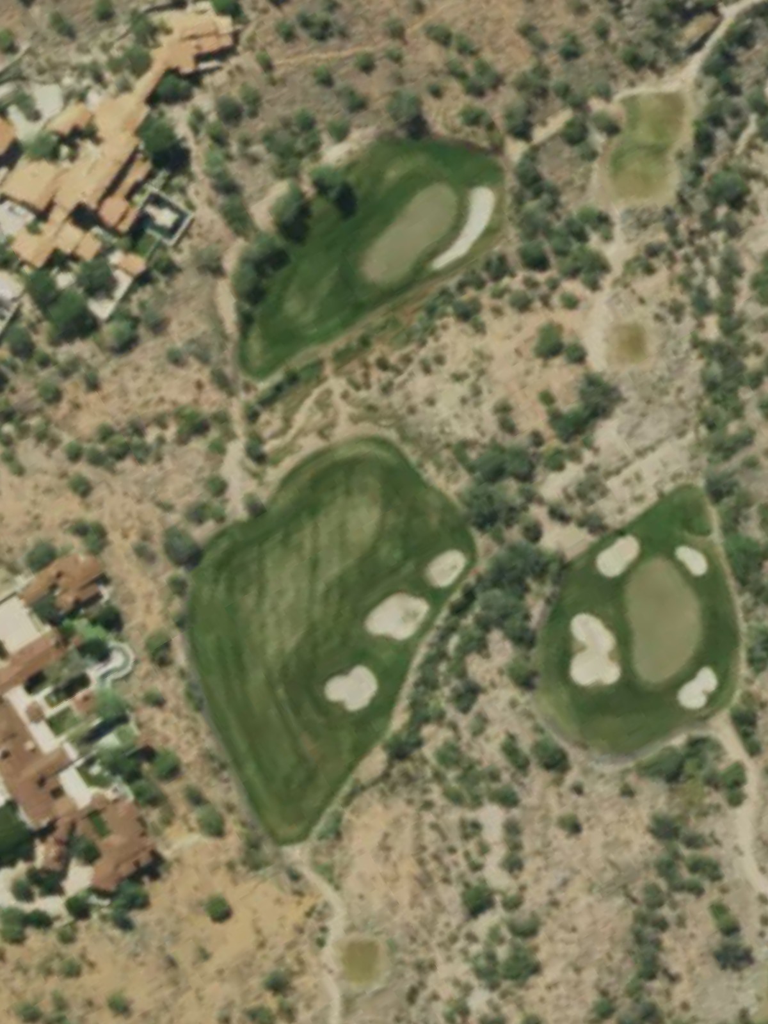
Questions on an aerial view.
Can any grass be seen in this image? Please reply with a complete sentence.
Yes, grass can be seen from above here.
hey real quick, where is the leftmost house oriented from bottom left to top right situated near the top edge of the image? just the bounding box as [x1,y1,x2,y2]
[0,1,234,269]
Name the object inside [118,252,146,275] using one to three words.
house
